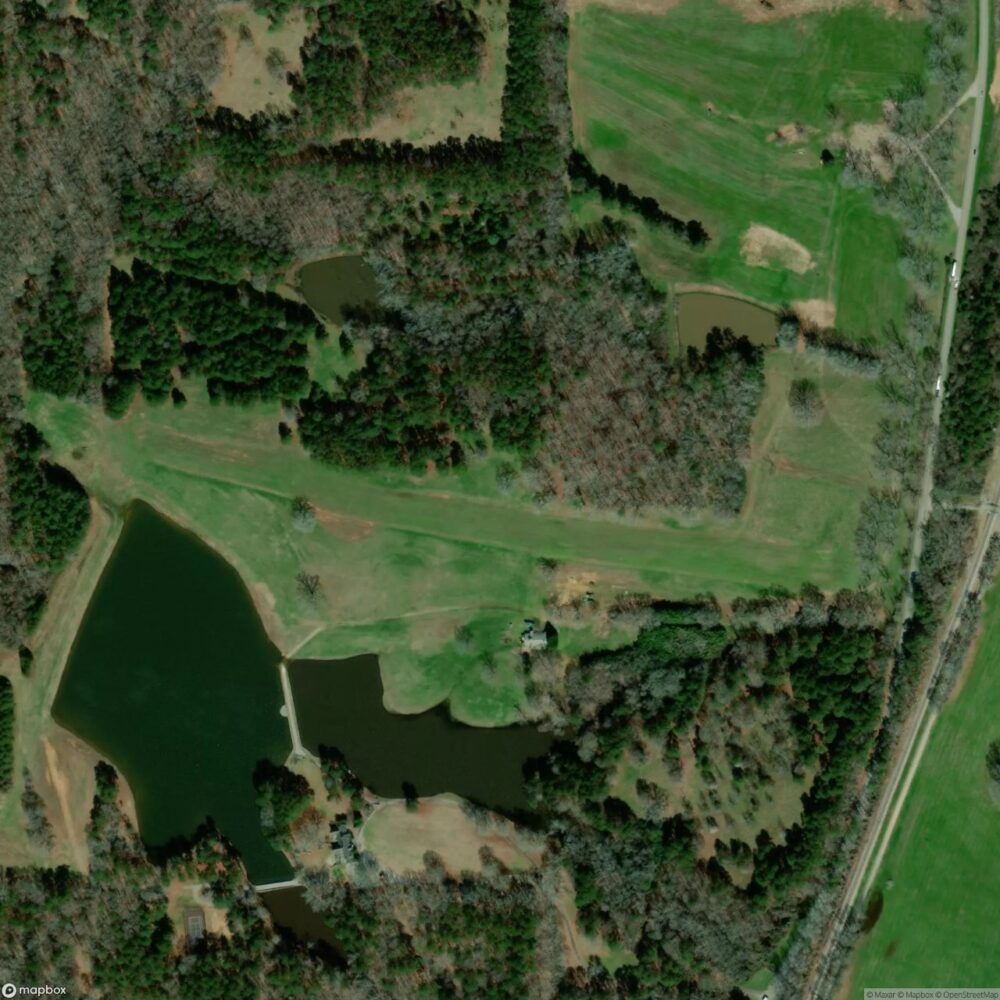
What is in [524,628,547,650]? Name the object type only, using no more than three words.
house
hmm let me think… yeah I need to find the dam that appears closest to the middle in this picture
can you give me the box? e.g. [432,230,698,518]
[278,659,304,754]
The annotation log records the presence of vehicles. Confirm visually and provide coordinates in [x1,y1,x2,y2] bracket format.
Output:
[937,376,942,393]
[951,260,957,278]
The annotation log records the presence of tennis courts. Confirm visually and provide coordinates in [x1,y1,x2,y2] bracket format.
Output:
[186,907,206,943]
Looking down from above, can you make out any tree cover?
Yes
